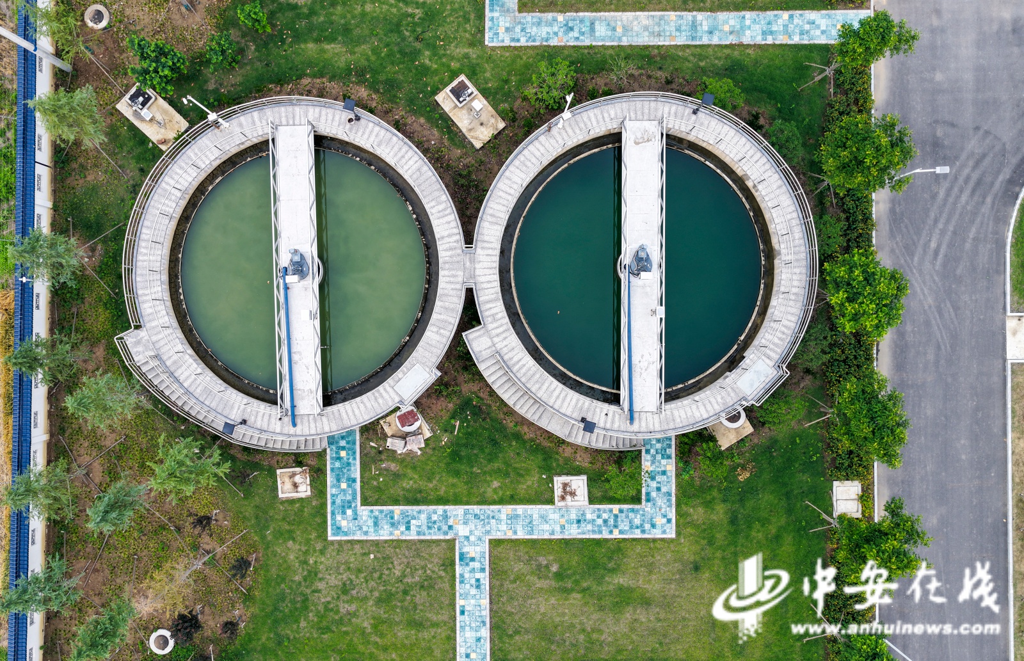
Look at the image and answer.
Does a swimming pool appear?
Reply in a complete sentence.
No, the scene contains no swimming pool.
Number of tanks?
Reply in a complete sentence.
The number of tanks here is 2.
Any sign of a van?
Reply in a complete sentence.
No, there isn't any van down there.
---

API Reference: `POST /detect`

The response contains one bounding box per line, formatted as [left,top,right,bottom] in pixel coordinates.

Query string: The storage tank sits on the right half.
[462,95,815,451]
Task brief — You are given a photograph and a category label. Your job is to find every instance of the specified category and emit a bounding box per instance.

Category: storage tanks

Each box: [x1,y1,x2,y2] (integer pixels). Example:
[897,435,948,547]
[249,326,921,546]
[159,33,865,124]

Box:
[462,95,815,451]
[109,98,466,453]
